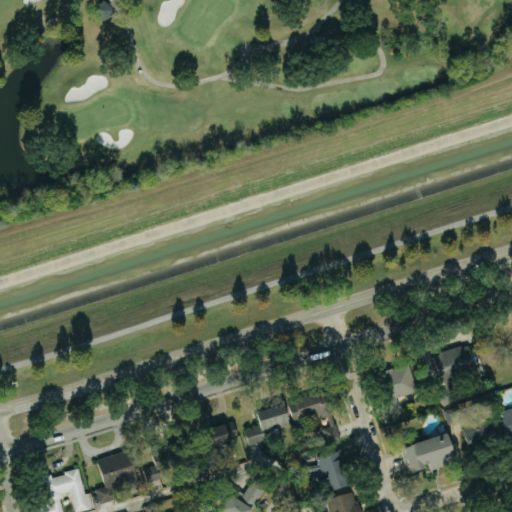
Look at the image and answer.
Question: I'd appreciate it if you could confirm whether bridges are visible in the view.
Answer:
No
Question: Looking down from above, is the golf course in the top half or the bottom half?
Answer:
top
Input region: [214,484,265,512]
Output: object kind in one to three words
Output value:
house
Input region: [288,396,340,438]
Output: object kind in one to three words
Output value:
house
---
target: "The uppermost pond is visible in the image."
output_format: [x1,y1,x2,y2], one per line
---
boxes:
[0,36,62,194]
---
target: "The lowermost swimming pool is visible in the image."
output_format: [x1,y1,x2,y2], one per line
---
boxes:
[422,415,444,438]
